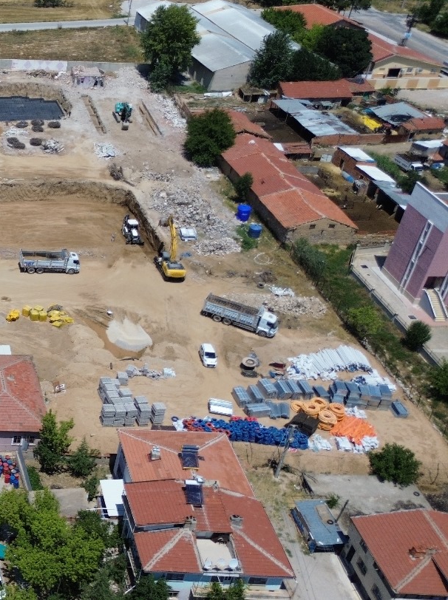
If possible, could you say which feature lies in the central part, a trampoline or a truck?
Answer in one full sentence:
The feature located in the central part is a truck.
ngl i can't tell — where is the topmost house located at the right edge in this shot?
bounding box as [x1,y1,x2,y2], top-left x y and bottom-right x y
[343,24,442,81]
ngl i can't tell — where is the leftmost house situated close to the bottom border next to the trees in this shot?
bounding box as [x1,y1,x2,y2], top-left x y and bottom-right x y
[85,423,296,600]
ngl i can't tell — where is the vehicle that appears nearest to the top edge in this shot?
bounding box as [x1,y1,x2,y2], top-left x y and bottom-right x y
[115,106,132,123]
